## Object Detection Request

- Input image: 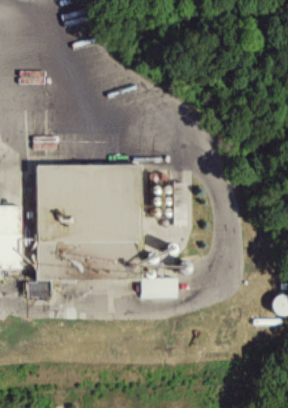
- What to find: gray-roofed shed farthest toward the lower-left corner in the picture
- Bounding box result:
[27,282,50,302]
